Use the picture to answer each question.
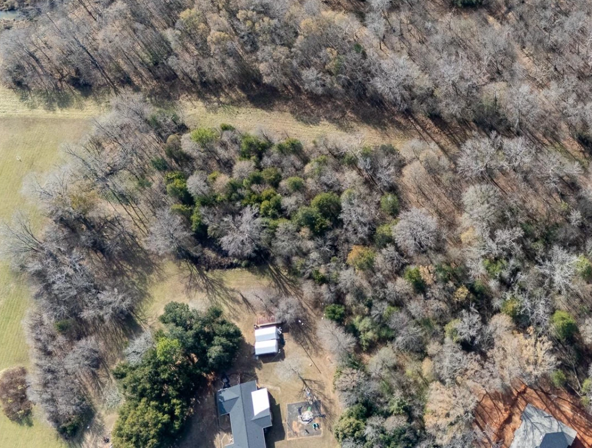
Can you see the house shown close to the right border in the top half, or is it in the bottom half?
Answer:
bottom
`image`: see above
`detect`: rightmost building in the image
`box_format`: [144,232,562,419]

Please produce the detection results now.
[510,404,577,448]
